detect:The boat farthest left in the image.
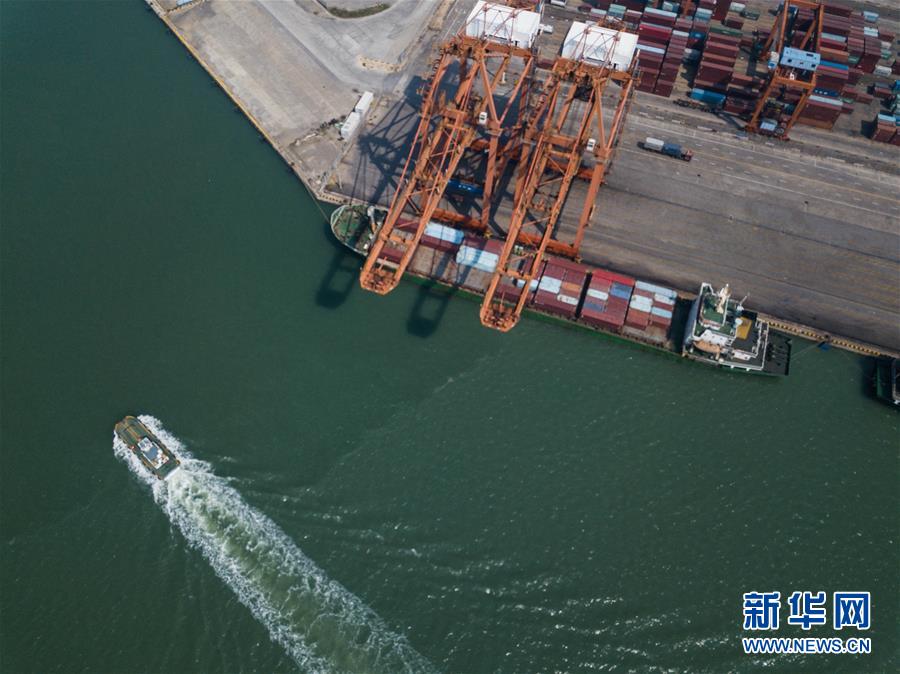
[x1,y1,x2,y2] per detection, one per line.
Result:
[113,416,180,480]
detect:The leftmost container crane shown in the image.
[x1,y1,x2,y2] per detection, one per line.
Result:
[368,0,546,292]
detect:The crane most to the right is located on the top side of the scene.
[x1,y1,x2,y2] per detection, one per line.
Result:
[748,0,829,138]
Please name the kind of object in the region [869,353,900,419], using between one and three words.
ship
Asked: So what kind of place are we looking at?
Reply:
port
